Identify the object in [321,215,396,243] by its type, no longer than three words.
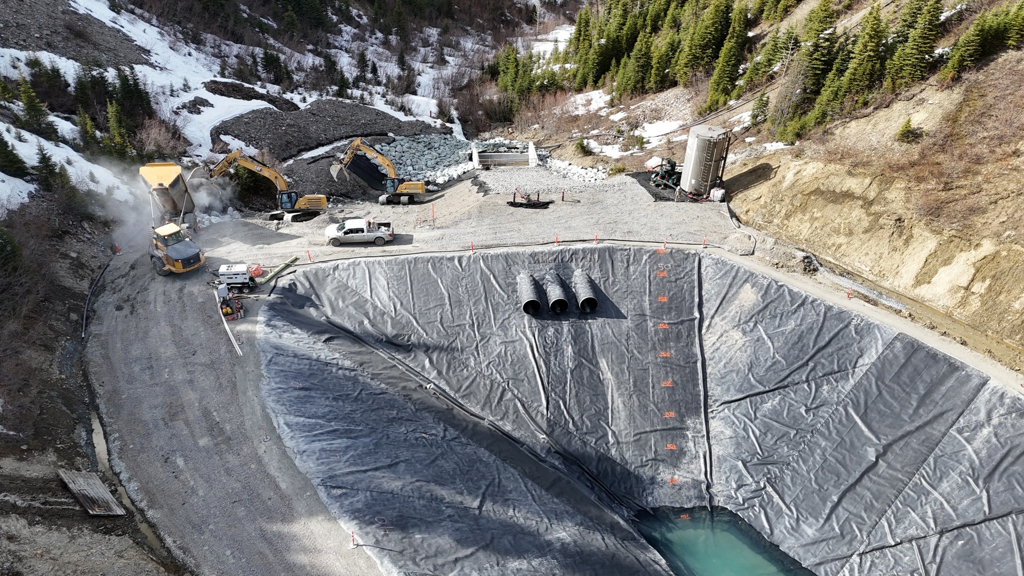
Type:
truck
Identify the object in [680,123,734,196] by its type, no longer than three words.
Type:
storage tank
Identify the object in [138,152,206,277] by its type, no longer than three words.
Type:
truck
